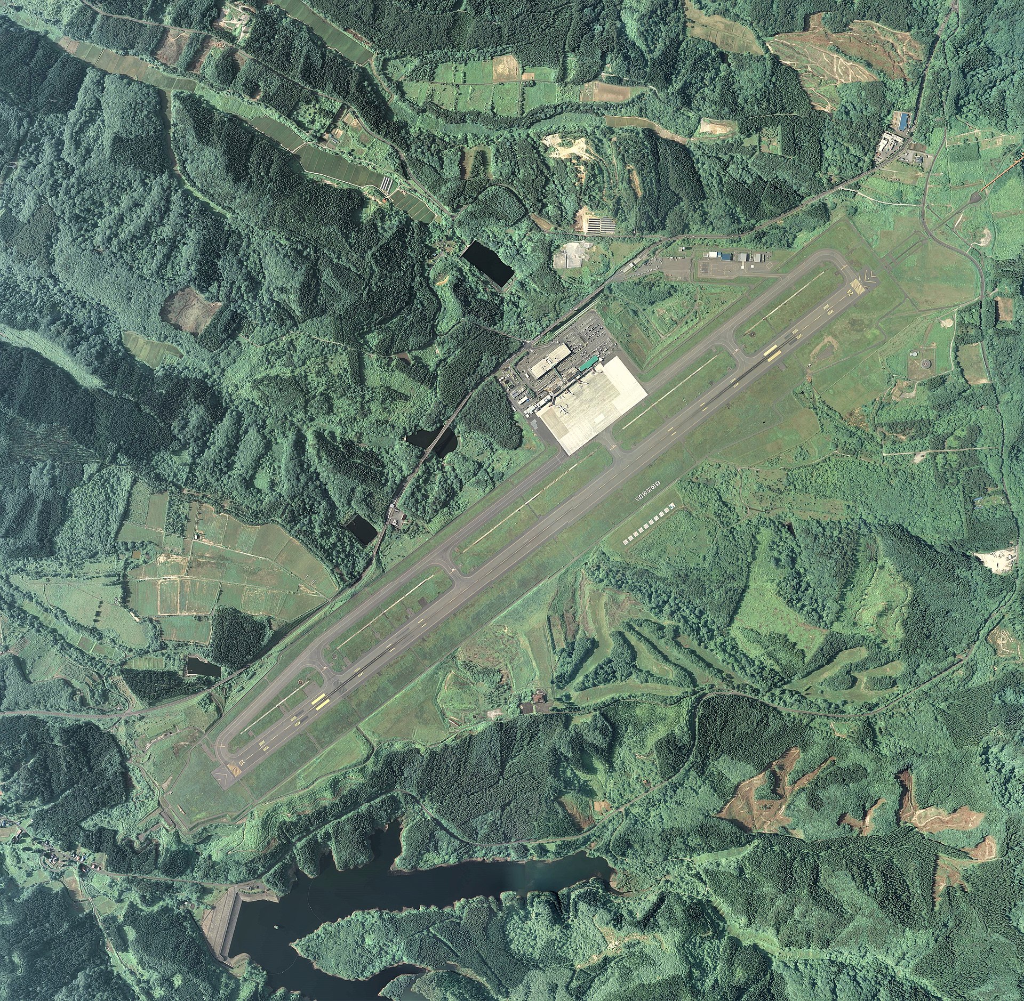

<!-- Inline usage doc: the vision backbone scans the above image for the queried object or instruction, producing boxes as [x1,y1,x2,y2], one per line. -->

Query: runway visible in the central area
[212,265,881,790]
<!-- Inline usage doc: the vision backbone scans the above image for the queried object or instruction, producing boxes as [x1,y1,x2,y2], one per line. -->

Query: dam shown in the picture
[206,885,281,966]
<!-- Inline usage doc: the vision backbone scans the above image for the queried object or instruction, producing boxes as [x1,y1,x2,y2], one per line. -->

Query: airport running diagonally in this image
[197,248,881,806]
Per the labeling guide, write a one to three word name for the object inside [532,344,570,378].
building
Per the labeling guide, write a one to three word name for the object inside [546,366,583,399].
building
